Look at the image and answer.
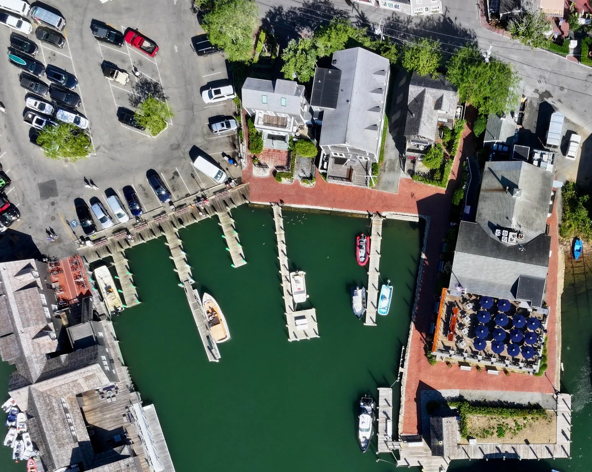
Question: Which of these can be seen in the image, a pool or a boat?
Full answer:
The one in the frame is a boat.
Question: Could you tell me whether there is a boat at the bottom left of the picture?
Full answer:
Yes, you'll find a boat at the bottom left of the picture.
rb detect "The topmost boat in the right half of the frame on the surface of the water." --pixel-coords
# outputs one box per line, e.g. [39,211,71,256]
[355,231,369,266]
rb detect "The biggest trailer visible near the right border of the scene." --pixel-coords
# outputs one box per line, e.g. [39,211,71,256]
[543,110,566,154]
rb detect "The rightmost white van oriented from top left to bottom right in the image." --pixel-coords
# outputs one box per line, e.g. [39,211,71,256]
[190,151,228,185]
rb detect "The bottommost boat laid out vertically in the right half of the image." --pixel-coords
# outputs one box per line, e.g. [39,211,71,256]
[357,395,375,453]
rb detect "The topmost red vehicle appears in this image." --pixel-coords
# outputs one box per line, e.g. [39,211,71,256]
[125,30,160,59]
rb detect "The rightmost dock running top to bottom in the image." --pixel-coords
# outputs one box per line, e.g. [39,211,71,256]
[363,213,386,327]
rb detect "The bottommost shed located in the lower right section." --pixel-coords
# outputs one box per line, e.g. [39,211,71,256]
[430,417,458,457]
